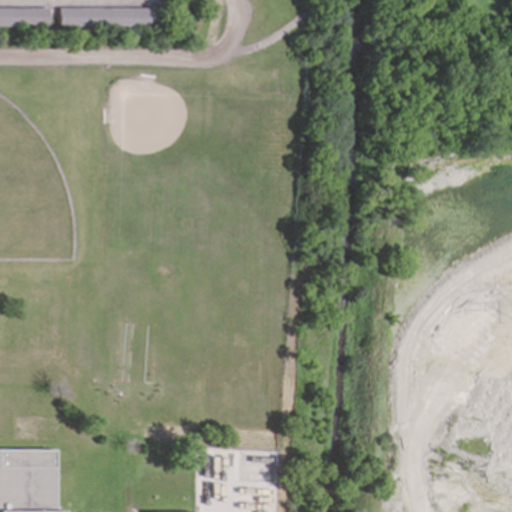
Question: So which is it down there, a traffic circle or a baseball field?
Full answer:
I can see a baseball field in this picture.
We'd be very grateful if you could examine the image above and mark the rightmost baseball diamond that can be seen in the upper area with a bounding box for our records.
[109,78,281,259]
